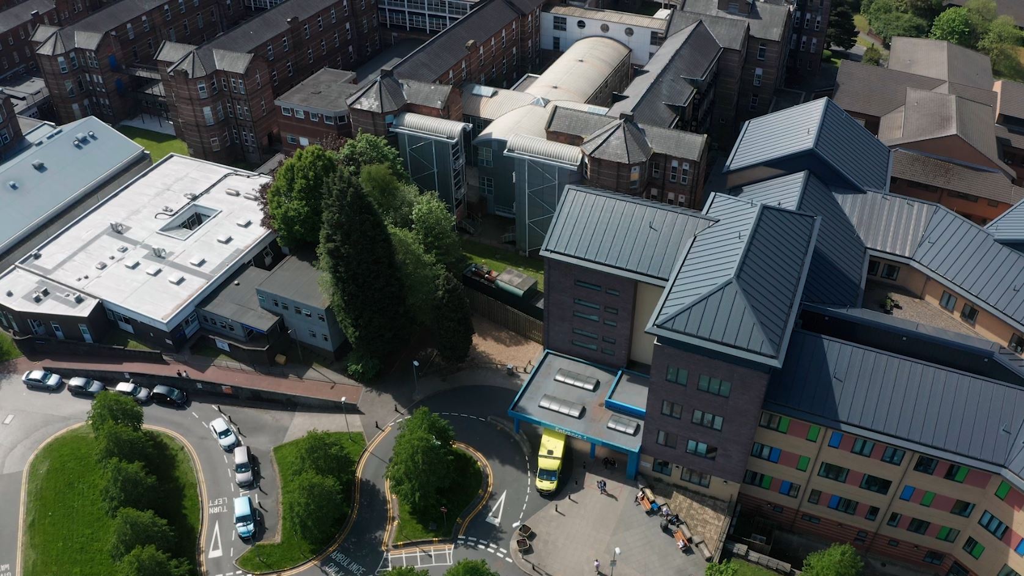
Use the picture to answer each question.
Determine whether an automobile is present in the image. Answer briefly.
Yes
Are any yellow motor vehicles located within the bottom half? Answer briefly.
Yes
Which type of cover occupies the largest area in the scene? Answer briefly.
buildings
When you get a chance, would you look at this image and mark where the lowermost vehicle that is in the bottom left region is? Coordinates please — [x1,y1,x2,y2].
[232,497,257,542]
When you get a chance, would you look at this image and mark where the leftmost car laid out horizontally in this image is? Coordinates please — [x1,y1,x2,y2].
[17,372,67,393]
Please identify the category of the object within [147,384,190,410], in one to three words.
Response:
car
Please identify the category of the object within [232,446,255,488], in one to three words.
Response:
car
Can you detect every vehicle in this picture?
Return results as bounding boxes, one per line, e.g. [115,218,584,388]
[17,372,67,393]
[63,377,108,399]
[147,384,190,410]
[208,416,240,455]
[535,430,568,492]
[232,446,255,488]
[114,379,151,406]
[232,497,257,542]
